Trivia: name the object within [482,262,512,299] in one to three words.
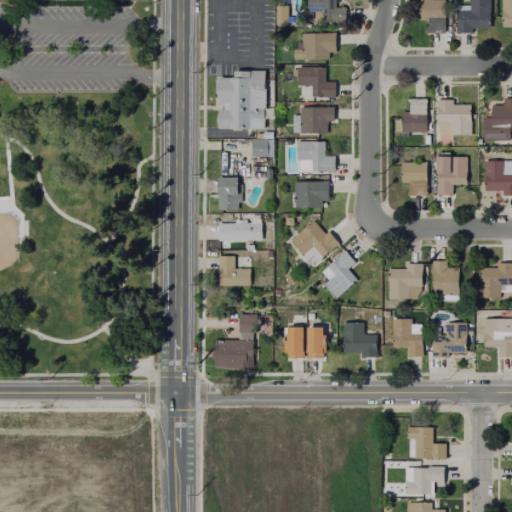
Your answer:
house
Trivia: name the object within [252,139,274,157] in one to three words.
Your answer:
building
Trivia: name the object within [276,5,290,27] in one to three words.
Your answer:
shed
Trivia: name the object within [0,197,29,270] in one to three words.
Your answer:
sports field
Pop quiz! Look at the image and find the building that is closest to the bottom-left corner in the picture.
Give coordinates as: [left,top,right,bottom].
[214,340,256,370]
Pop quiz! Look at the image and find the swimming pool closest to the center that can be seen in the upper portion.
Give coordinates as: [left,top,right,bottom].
[247,184,262,208]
